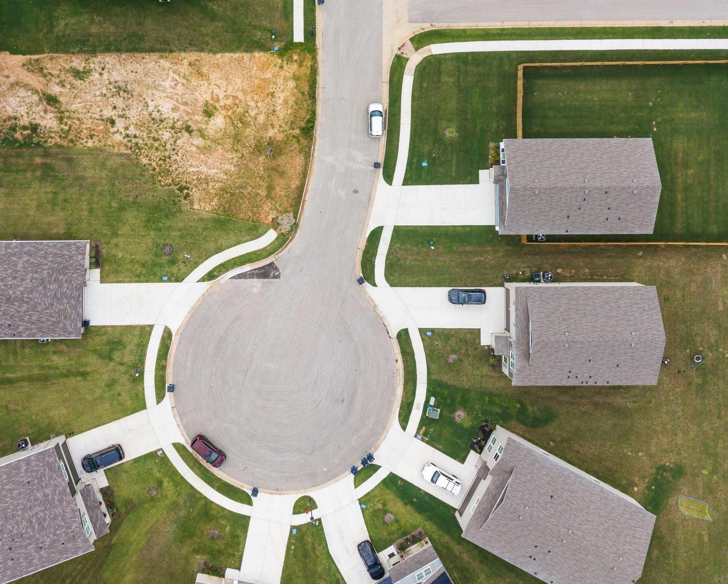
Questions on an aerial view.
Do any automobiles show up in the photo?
Yes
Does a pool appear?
No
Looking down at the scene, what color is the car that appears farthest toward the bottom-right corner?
white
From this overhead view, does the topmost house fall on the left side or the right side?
right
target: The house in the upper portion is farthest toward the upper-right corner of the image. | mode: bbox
[489,138,662,235]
